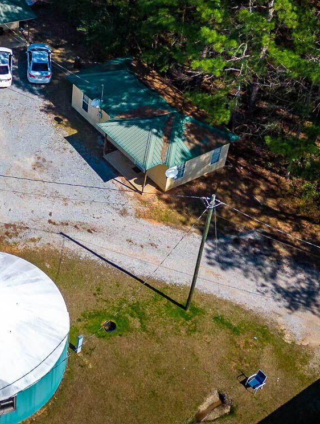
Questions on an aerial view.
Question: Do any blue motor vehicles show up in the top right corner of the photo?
No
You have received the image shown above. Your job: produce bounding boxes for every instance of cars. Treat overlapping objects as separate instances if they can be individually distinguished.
[0,46,15,88]
[25,41,55,83]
